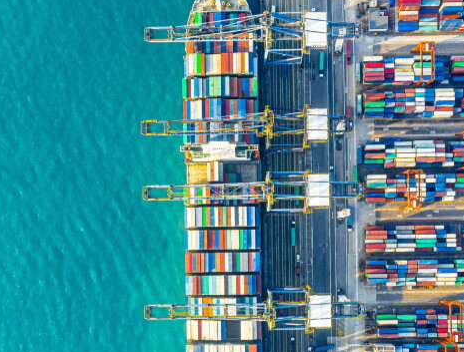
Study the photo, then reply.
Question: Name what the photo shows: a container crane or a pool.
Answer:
container crane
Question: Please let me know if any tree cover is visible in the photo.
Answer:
No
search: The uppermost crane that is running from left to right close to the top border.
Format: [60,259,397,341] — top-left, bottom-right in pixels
[142,11,359,80]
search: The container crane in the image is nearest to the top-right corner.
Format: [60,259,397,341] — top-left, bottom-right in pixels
[413,41,436,88]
